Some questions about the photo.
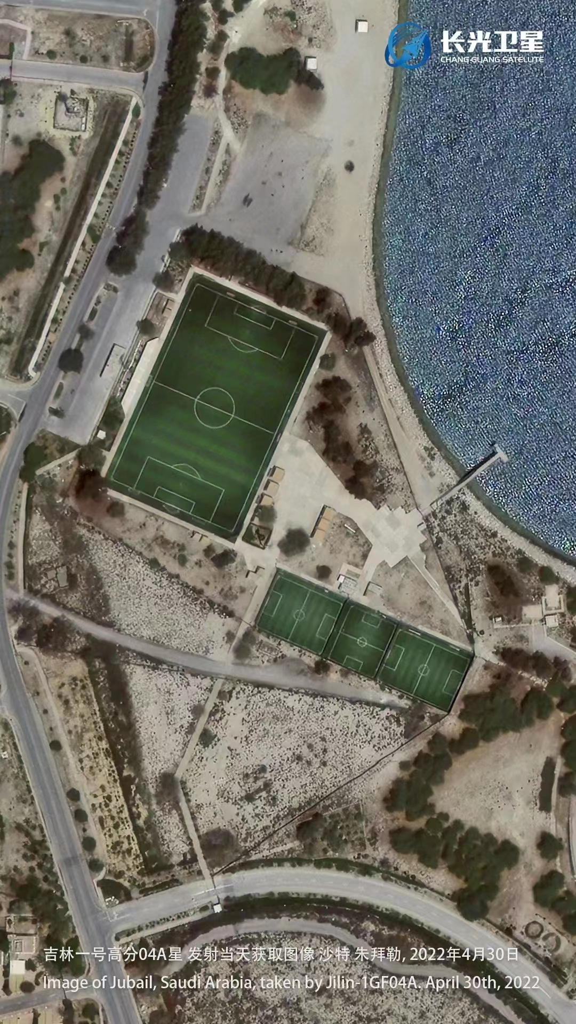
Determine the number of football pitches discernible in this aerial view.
4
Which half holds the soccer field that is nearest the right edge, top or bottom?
bottom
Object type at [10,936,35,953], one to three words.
house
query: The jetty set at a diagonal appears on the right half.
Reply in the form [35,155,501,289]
[430,444,509,509]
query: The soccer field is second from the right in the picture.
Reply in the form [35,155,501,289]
[324,599,397,678]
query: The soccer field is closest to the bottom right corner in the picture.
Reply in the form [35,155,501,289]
[377,624,473,713]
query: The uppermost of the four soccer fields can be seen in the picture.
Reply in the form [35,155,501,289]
[106,272,327,544]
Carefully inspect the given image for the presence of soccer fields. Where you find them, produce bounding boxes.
[256,568,347,657]
[377,624,473,713]
[324,599,397,678]
[106,272,327,544]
